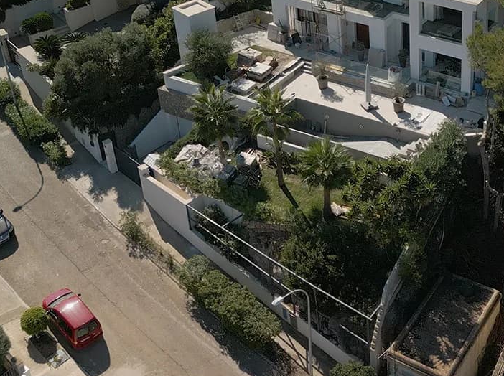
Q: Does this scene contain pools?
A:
Yes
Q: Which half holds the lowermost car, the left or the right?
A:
left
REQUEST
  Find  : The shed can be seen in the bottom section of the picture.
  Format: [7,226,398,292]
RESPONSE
[385,272,503,376]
